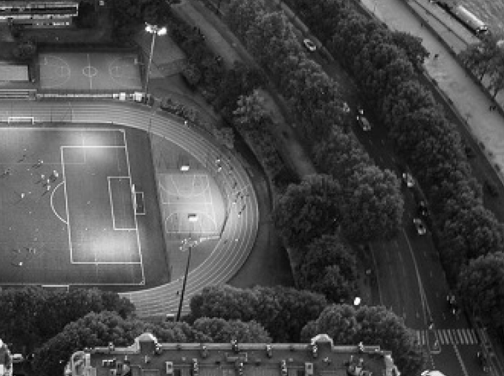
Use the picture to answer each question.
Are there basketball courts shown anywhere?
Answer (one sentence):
Yes, the image includes a basketball court.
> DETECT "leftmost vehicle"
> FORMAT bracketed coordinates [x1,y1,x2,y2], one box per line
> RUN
[303,37,316,49]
